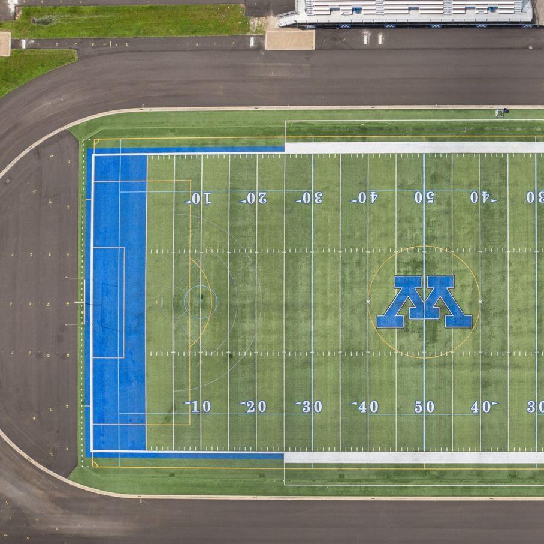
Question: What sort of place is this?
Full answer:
This image shows a sports ground.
